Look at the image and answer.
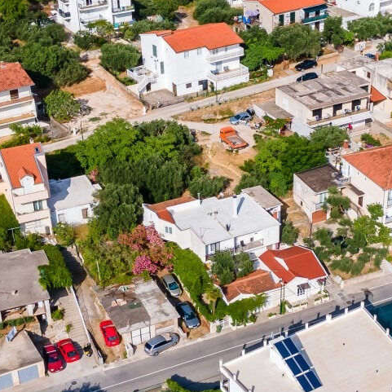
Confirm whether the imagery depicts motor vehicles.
Yes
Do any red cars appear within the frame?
Yes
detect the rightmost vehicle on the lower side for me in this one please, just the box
[179,303,198,327]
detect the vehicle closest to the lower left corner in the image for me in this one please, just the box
[44,344,63,369]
